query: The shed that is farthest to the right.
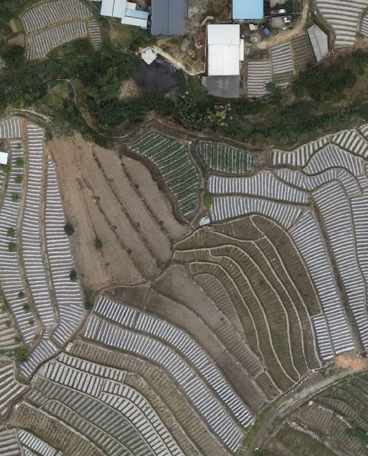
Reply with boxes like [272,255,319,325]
[308,25,328,62]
